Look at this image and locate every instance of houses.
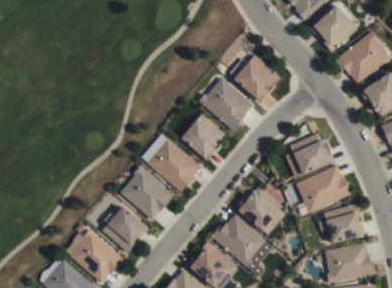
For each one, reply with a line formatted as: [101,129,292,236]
[338,32,392,83]
[167,268,205,288]
[214,214,272,274]
[382,122,392,152]
[290,134,334,174]
[66,230,122,284]
[296,164,350,212]
[200,78,255,130]
[120,168,172,220]
[324,243,375,282]
[181,114,226,159]
[234,54,281,102]
[240,182,286,235]
[188,244,238,288]
[104,208,148,254]
[324,204,366,243]
[40,260,96,288]
[142,134,202,192]
[311,0,360,49]
[362,72,392,114]
[288,0,327,20]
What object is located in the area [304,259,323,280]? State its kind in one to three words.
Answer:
swimming pool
